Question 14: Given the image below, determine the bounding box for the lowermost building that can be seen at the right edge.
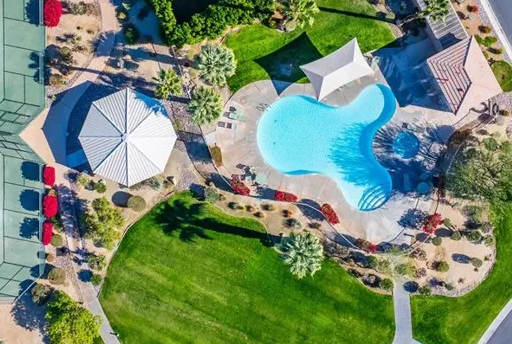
[423,35,502,114]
